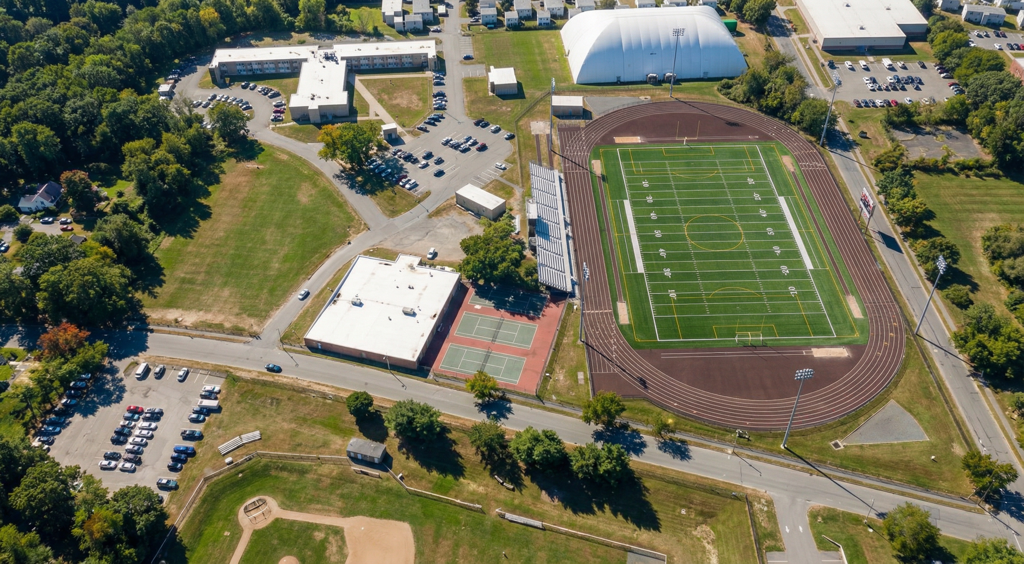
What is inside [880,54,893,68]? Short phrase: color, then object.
white vehicle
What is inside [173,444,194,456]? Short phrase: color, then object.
blue vehicle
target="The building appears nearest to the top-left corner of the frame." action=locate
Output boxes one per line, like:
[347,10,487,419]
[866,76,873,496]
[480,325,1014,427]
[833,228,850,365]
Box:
[31,179,59,211]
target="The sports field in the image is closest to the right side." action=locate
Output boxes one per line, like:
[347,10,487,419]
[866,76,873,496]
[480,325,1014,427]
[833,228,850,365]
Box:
[590,142,869,350]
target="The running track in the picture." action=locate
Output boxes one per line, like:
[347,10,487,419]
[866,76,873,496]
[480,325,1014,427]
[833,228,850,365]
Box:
[558,100,906,429]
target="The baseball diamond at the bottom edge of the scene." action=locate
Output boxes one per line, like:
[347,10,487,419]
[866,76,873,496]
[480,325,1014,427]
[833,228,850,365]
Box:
[229,497,414,564]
